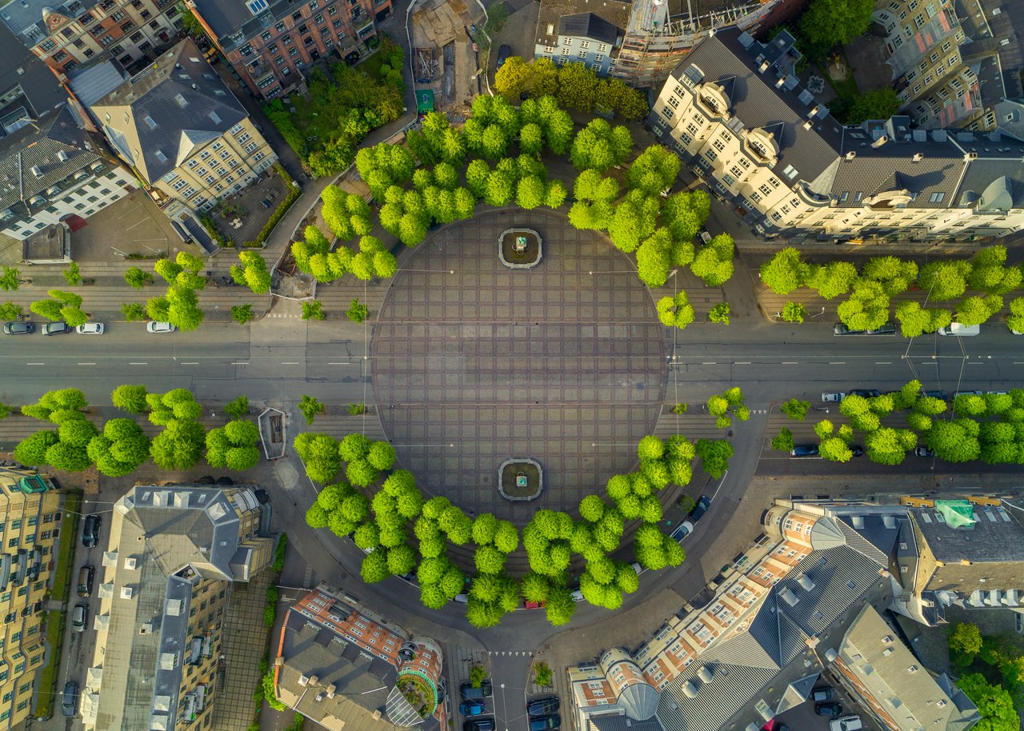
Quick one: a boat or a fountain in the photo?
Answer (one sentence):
Looking from above, you can make out a fountain.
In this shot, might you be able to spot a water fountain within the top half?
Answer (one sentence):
Yes, a water fountain appears within the top half.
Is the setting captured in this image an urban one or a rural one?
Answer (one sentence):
It looks urban.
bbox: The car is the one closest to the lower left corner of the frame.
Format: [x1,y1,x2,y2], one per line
[62,681,80,713]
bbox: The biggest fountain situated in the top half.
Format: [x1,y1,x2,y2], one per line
[497,226,543,269]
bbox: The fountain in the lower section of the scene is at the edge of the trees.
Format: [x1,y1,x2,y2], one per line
[497,458,545,502]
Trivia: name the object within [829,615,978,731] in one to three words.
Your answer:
house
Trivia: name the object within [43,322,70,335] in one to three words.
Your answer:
vehicle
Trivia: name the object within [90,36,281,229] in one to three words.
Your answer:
house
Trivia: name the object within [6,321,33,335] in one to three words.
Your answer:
car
